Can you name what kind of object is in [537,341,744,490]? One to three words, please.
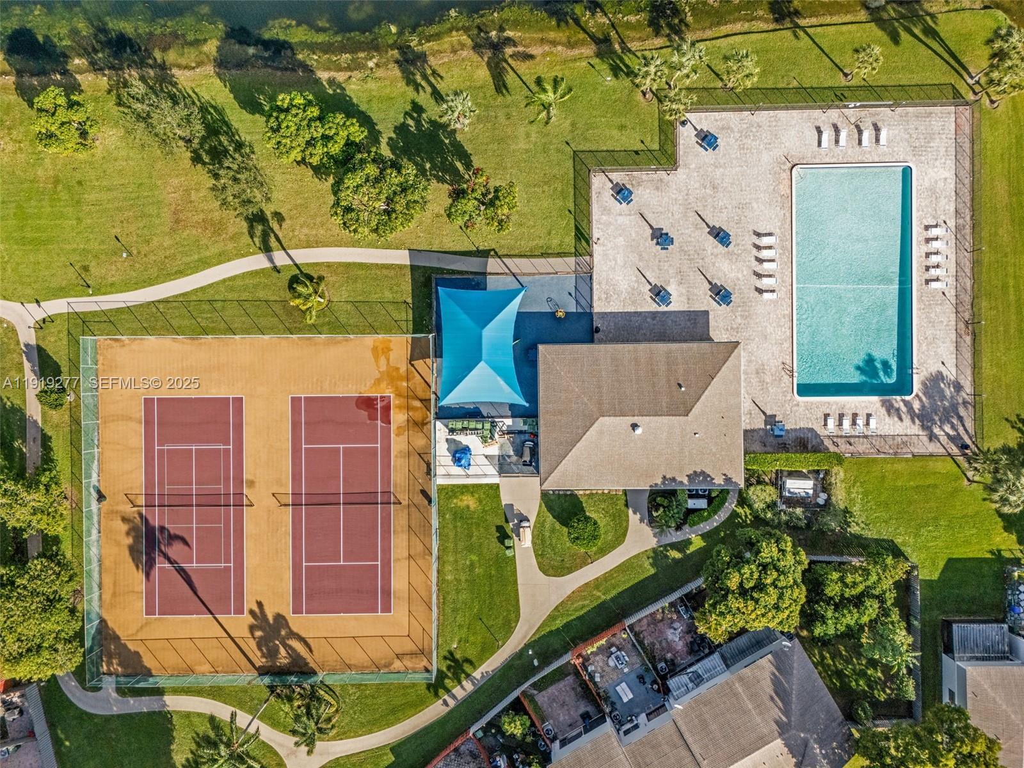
building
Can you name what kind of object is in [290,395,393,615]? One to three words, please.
tennis court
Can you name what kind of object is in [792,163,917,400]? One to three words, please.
swimming pool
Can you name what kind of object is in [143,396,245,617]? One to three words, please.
tennis court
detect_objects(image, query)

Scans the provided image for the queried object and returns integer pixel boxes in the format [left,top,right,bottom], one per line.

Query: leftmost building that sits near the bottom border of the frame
[549,716,636,768]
